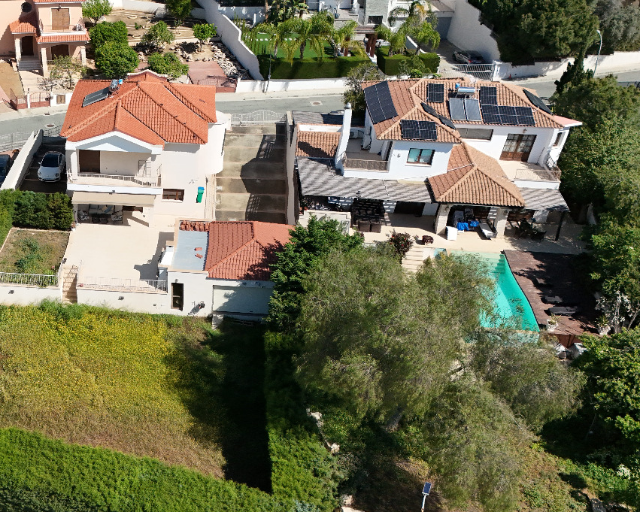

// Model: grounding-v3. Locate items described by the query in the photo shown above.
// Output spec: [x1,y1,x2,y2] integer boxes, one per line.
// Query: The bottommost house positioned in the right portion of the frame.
[292,79,585,241]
